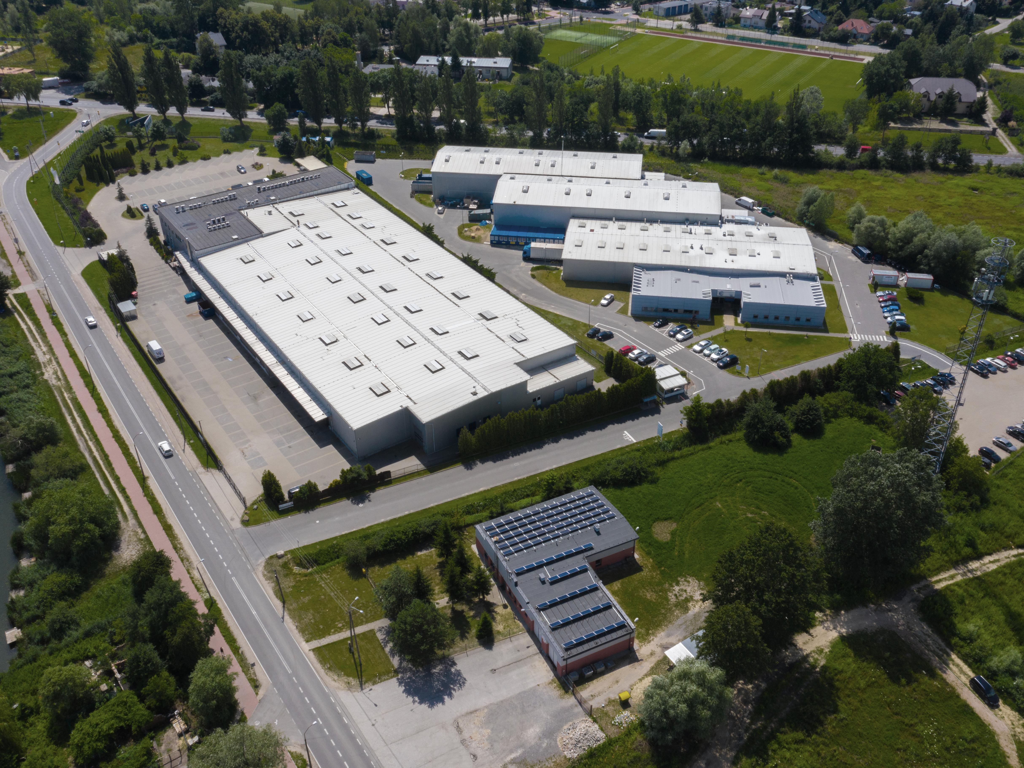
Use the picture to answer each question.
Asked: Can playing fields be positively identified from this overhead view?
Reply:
Yes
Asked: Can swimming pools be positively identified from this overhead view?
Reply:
No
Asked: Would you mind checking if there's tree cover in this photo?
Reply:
Yes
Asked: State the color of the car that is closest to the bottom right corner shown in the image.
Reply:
black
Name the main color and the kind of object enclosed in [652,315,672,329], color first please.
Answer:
black car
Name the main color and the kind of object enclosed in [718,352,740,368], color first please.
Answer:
black car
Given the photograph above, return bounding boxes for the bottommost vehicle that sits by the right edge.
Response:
[968,676,1002,709]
